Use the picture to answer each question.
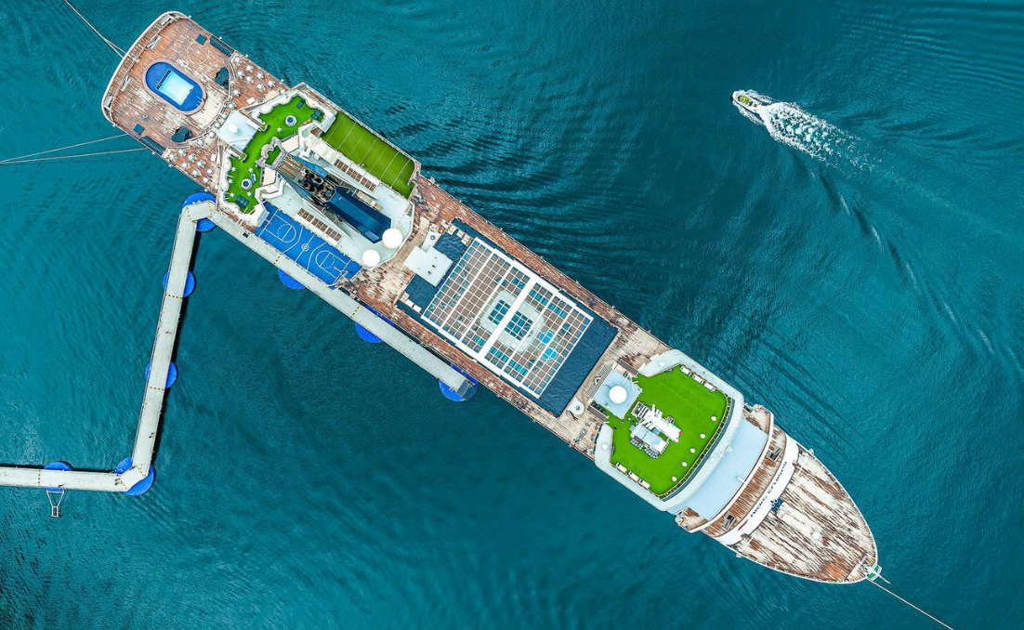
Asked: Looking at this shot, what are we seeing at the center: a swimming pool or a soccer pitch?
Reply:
swimming pool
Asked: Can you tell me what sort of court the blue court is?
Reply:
basketball court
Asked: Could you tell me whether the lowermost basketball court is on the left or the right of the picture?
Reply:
left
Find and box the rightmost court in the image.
[322,108,421,199]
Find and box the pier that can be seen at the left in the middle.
[0,192,478,517]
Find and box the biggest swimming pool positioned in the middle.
[486,299,535,342]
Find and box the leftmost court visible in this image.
[254,205,364,290]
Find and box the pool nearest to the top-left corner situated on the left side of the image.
[146,60,206,113]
